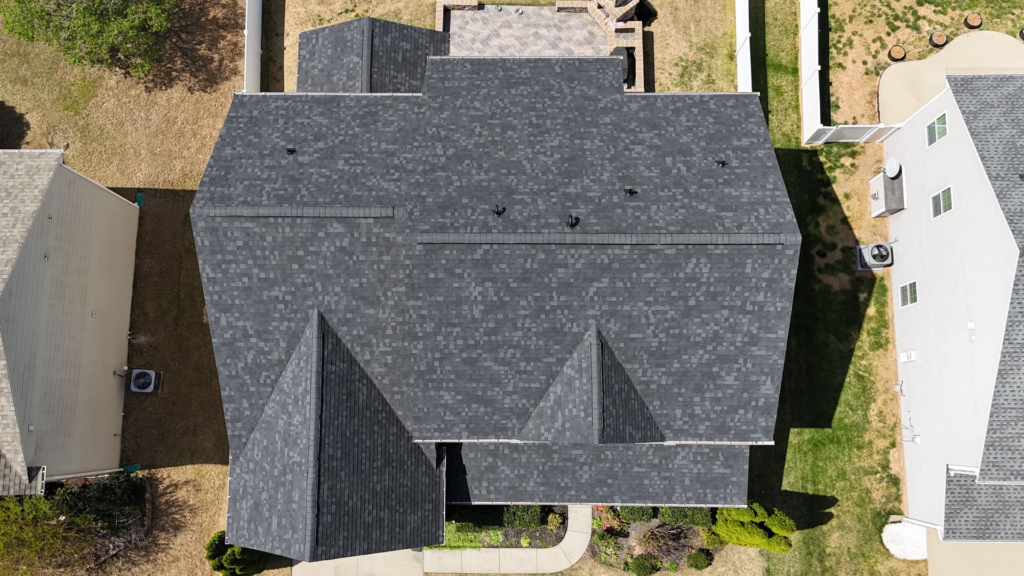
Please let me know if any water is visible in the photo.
No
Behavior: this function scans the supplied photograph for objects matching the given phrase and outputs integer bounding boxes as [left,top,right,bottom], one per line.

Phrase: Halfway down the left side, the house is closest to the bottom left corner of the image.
[0,149,144,494]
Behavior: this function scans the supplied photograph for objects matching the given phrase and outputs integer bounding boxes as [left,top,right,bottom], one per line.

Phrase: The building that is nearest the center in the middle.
[191,17,801,561]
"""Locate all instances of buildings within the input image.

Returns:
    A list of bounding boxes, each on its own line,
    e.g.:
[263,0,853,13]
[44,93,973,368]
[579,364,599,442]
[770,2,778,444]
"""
[0,149,144,494]
[870,73,1024,543]
[191,17,801,561]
